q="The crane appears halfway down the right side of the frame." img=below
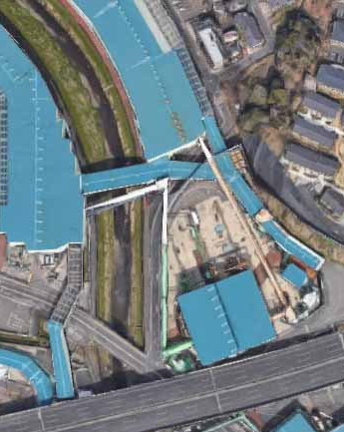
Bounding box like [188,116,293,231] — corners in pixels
[199,139,302,324]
